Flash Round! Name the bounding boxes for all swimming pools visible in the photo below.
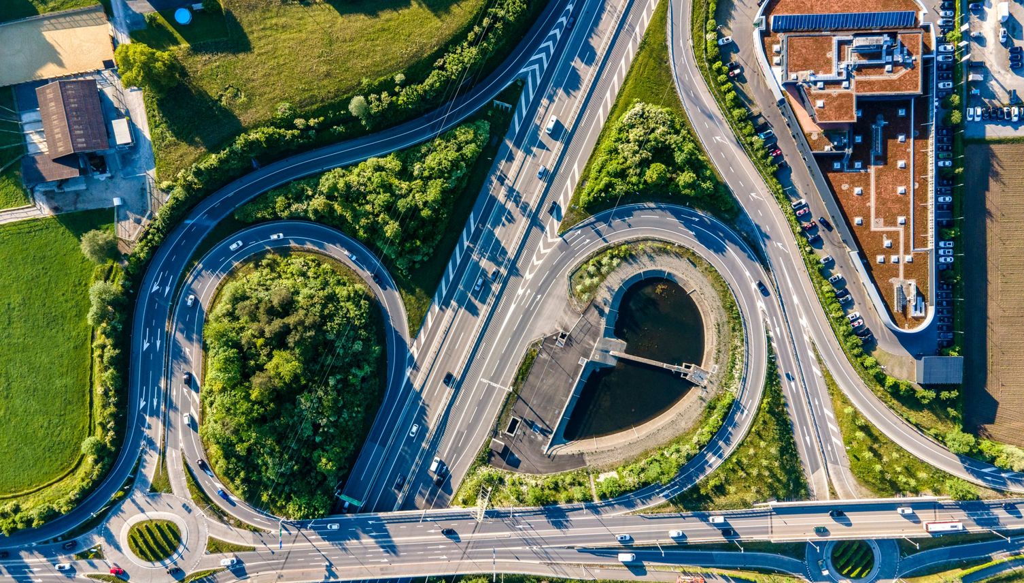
[174,8,191,25]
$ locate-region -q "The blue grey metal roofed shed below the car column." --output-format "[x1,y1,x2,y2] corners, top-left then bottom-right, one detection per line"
[912,356,963,383]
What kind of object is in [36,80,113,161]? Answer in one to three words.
barn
